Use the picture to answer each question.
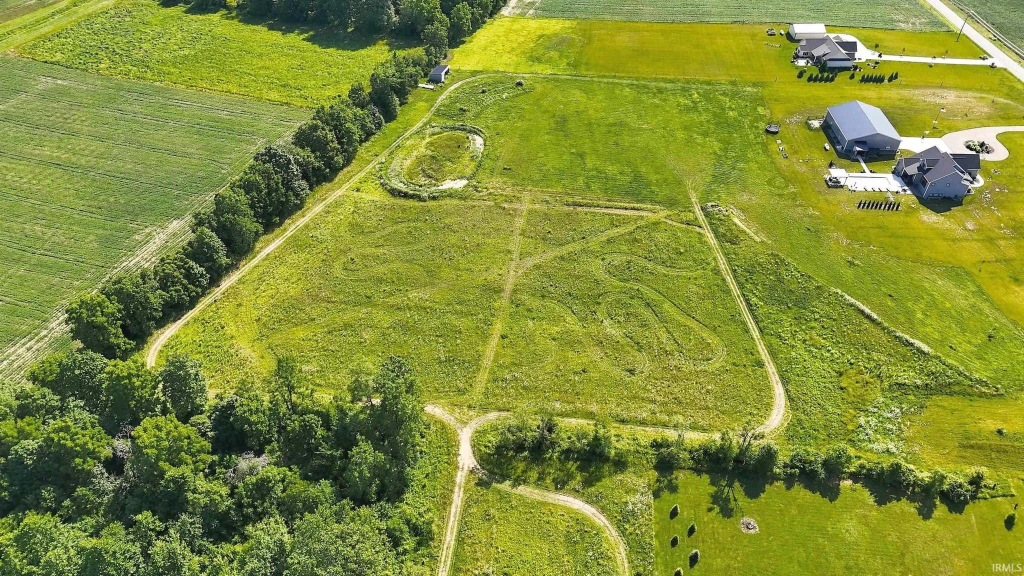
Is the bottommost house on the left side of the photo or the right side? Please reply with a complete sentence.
You can find the bottommost house on the right side of the picture.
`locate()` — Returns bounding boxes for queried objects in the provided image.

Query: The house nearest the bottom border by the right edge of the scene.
[886,139,992,198]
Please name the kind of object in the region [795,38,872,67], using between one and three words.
house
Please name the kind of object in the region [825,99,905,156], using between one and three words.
barn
